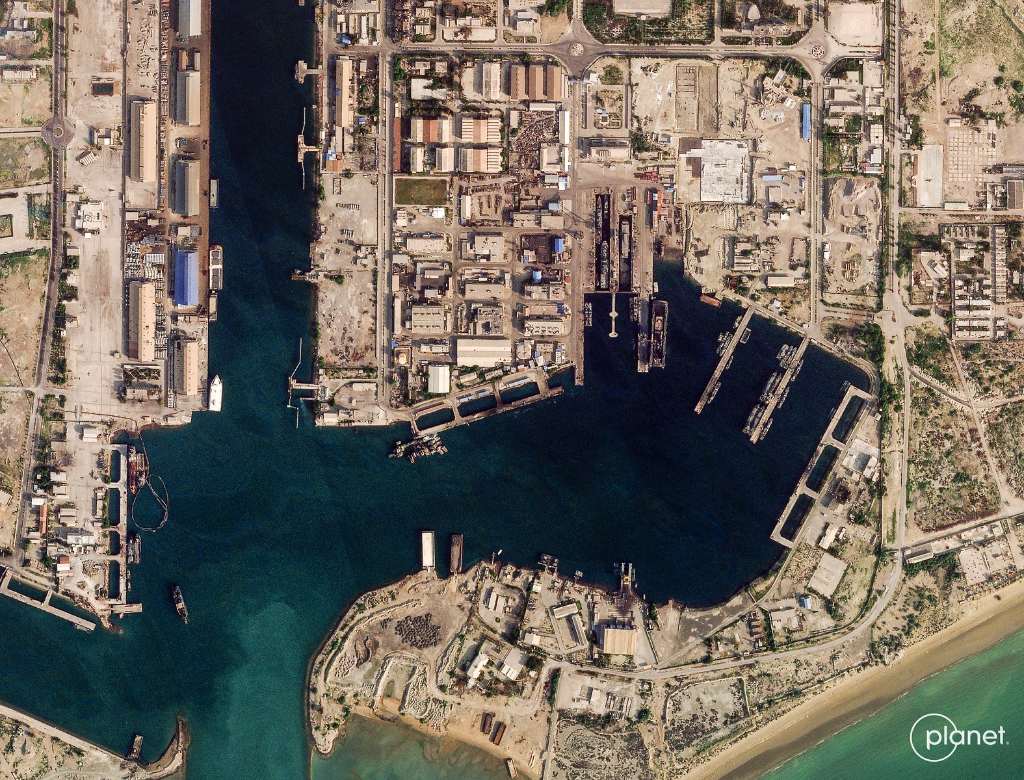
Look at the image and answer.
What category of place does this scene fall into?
port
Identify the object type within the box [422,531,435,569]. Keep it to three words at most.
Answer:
ship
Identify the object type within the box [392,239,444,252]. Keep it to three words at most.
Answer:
building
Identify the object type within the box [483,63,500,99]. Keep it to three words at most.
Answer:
shed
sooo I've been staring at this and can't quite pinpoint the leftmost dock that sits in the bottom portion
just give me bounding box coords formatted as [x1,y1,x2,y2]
[0,567,95,631]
